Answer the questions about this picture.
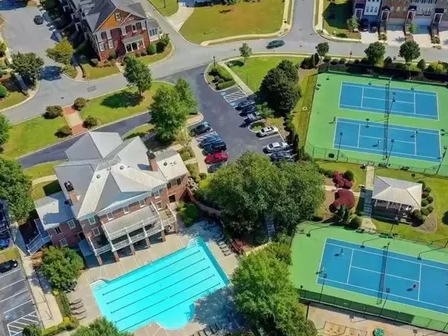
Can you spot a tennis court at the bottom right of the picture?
Yes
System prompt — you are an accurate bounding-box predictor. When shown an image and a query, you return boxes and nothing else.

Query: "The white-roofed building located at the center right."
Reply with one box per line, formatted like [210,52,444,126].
[370,175,423,219]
